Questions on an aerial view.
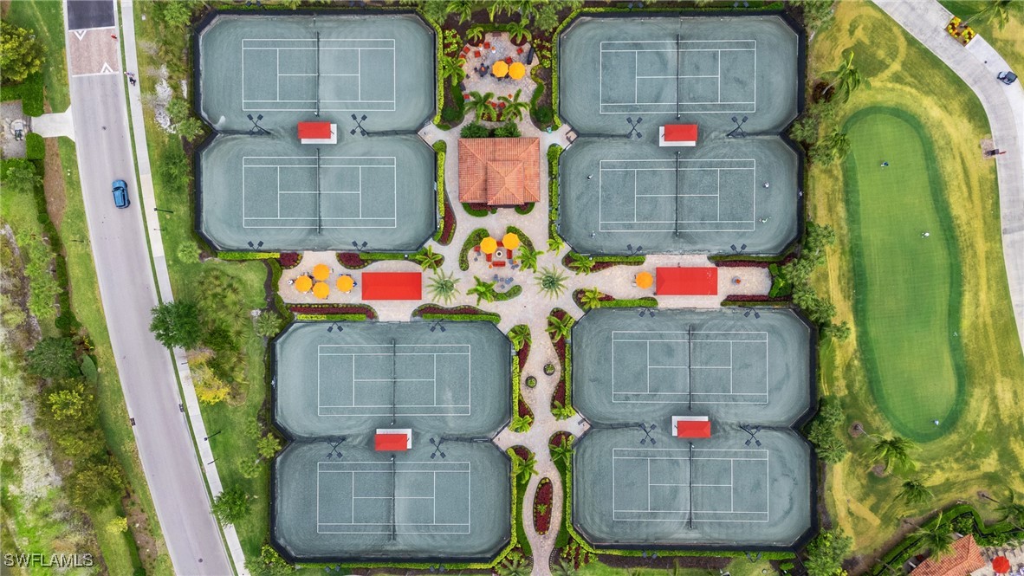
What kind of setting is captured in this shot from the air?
sports ground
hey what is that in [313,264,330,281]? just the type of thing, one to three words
umbrella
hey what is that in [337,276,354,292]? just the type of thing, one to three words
umbrella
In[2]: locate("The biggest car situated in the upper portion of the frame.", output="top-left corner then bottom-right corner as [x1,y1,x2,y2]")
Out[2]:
[109,179,128,208]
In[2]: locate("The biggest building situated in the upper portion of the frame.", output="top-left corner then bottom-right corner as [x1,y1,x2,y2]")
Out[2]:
[458,137,541,206]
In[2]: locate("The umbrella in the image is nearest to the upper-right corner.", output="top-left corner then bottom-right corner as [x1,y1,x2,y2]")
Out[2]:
[635,271,652,288]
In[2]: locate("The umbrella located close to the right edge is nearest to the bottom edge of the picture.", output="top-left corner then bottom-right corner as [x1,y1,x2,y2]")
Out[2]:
[988,555,1009,572]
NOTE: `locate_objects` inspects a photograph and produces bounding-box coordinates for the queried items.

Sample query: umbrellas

[988,555,1009,572]
[635,271,652,288]
[313,282,330,299]
[337,276,354,292]
[313,264,330,281]
[493,61,508,77]
[296,275,313,292]
[480,238,496,254]
[509,63,524,79]
[503,233,520,250]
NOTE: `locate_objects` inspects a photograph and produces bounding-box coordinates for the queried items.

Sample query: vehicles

[997,71,1020,84]
[109,179,128,208]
